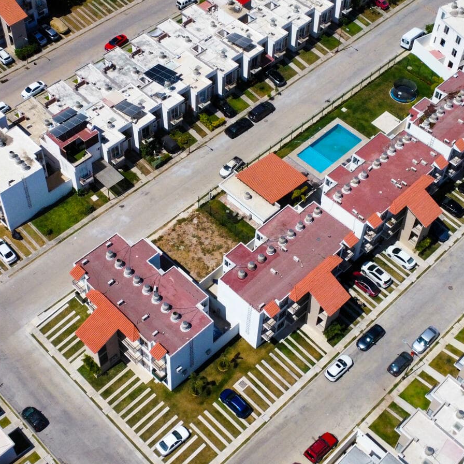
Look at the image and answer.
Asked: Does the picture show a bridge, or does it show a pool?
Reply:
pool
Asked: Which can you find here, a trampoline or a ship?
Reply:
trampoline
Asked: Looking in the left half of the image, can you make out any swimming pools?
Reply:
No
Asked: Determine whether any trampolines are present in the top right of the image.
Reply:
Yes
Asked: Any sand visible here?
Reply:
No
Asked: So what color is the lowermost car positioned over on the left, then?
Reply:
white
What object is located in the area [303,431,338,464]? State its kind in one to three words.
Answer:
car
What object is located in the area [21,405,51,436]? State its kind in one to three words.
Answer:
car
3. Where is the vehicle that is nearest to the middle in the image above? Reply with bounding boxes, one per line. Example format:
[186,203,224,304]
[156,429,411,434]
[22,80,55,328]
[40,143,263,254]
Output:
[215,154,248,179]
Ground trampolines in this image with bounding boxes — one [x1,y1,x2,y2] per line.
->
[388,74,417,103]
